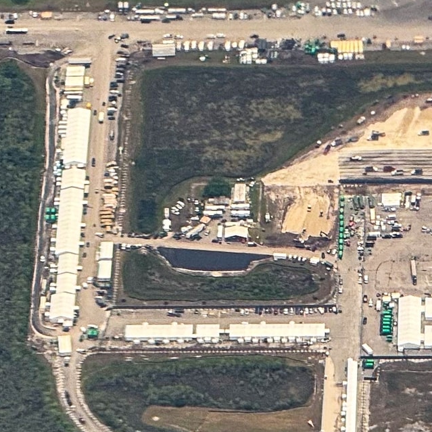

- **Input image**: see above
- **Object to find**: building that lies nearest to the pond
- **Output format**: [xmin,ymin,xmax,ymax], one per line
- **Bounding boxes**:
[225,225,248,241]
